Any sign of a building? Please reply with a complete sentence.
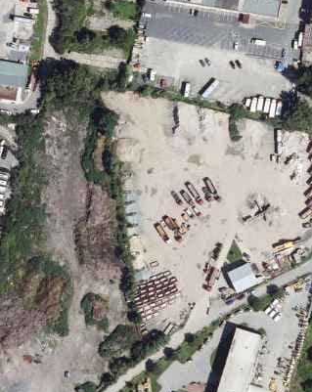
Yes, a building appears in the view.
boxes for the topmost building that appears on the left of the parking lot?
[14,18,33,38]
